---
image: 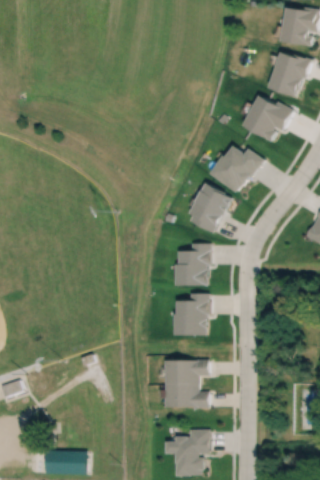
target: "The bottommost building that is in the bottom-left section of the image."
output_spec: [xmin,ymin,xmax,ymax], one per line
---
[43,449,94,474]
